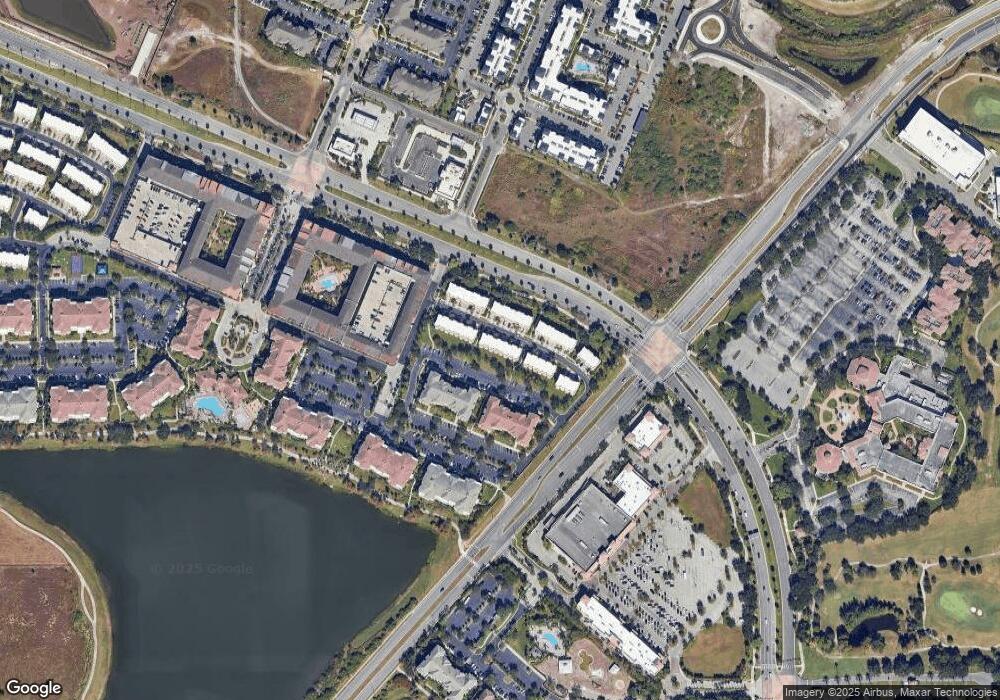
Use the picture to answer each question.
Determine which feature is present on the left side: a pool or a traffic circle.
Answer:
pool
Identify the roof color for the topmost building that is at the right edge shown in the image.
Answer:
white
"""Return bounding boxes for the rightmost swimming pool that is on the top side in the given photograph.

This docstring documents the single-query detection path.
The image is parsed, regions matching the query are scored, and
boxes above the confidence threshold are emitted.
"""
[569,57,602,77]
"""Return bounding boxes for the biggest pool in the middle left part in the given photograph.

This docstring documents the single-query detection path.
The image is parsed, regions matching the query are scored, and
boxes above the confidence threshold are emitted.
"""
[186,391,240,430]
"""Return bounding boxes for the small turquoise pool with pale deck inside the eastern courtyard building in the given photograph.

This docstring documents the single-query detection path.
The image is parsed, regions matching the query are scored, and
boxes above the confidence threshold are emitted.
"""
[312,273,340,295]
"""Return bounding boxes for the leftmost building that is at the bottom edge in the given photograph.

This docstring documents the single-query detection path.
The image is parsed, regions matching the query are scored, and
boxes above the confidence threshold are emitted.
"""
[416,646,478,700]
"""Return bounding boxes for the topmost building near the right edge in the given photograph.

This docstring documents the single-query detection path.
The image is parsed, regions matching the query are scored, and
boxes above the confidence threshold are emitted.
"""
[897,107,984,185]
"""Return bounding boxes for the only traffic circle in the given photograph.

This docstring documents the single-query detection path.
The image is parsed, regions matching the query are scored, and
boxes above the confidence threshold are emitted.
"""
[687,7,734,54]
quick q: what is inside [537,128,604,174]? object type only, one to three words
building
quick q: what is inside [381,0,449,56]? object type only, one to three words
building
